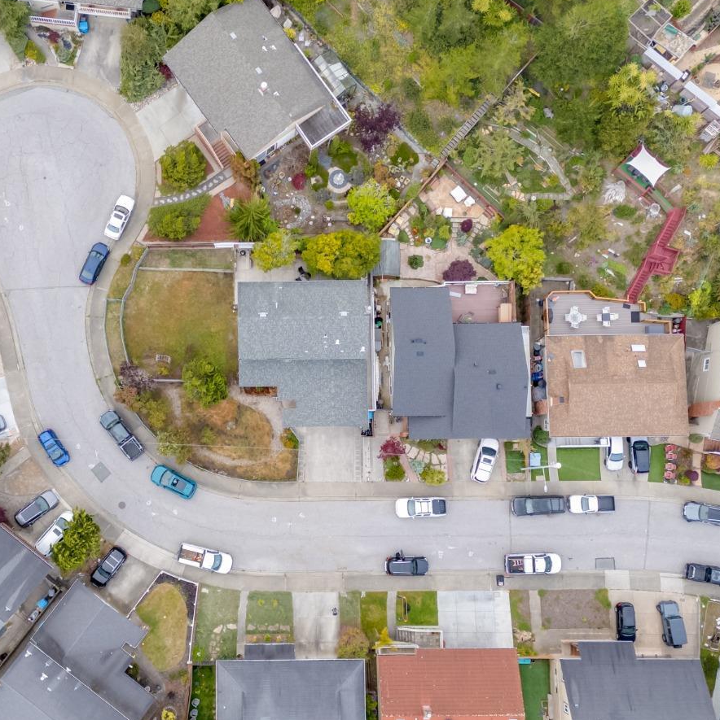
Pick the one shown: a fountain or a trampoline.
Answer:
fountain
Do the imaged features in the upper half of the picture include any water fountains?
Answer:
Yes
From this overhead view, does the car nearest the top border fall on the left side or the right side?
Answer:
left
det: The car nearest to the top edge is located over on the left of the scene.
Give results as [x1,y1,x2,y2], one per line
[101,193,138,243]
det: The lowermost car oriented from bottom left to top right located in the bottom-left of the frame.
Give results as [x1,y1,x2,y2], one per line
[88,541,131,591]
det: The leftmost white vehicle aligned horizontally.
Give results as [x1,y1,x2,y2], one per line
[175,541,234,576]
